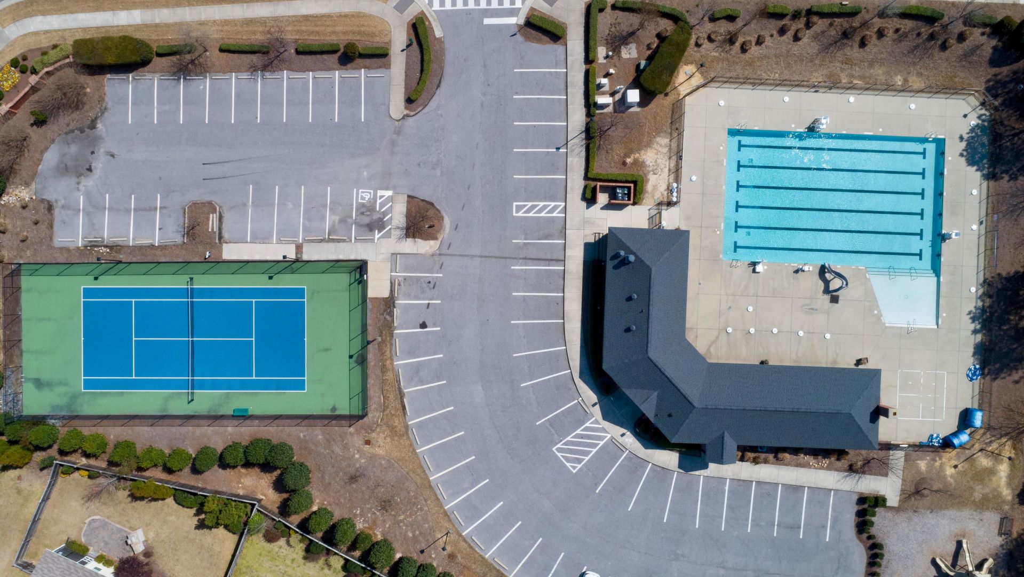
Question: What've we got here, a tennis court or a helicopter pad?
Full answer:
The image shows a tennis court.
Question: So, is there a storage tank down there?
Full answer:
No, no storage tank is visible in the scene.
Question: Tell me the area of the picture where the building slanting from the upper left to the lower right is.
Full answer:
The building slanting from the upper left to the lower right is in the right part of the image.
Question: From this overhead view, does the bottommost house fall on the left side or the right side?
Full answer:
The bottommost house appears in the left half of the scene.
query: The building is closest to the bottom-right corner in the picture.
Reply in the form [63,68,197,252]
[602,226,897,464]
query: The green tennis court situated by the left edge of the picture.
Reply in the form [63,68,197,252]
[21,263,367,415]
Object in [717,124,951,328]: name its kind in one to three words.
swimming pool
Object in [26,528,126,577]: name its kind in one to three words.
house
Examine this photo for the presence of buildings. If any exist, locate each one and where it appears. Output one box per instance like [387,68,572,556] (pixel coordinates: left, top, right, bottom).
[602,226,897,464]
[26,528,126,577]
